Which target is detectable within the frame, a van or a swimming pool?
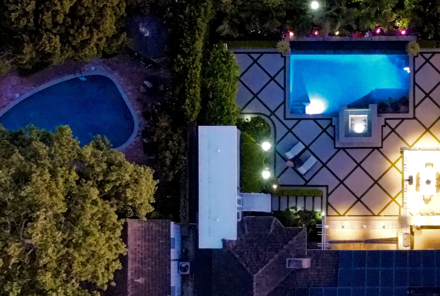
swimming pool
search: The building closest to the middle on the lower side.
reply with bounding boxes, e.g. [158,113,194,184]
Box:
[197,125,247,249]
